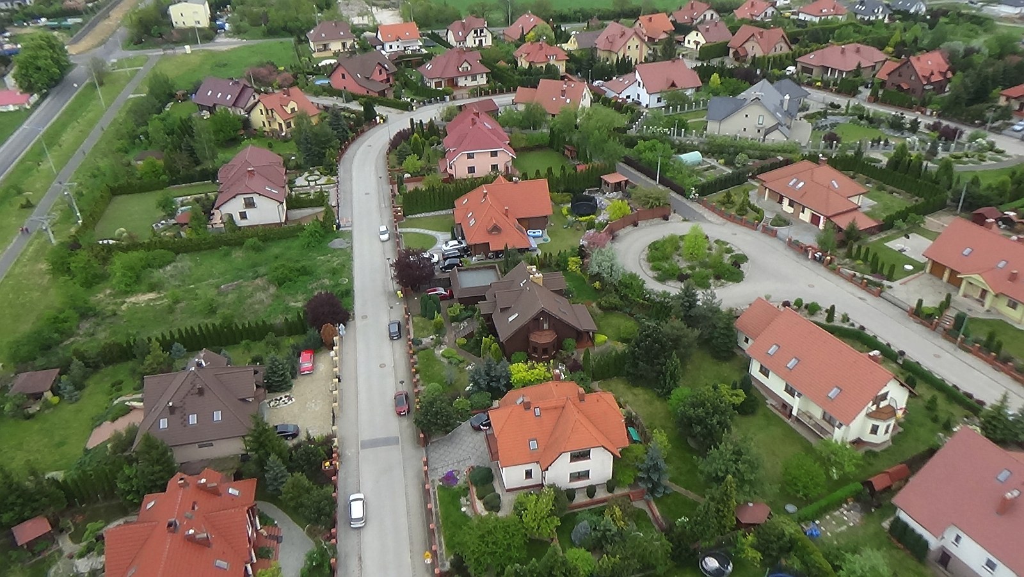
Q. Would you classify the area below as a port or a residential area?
residential area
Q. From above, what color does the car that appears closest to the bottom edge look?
white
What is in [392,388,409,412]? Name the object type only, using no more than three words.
car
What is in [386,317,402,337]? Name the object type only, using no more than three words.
car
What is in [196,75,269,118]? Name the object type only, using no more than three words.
house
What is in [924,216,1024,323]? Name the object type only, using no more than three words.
house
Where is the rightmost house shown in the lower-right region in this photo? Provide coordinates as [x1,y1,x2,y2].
[897,425,1024,577]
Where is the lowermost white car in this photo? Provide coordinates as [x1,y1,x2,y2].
[345,489,367,525]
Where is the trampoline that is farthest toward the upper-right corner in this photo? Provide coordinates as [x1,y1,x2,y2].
[570,195,598,214]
